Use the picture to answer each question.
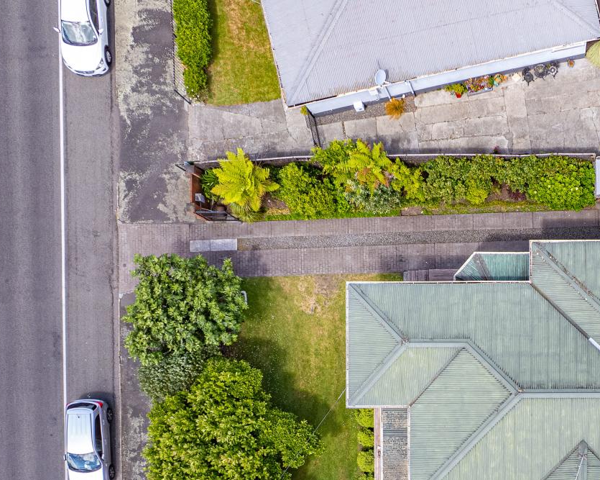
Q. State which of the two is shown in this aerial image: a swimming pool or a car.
car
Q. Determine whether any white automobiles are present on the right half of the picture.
No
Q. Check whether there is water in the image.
No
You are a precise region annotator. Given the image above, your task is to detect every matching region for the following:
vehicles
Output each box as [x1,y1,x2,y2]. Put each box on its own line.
[55,0,115,78]
[60,399,118,480]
